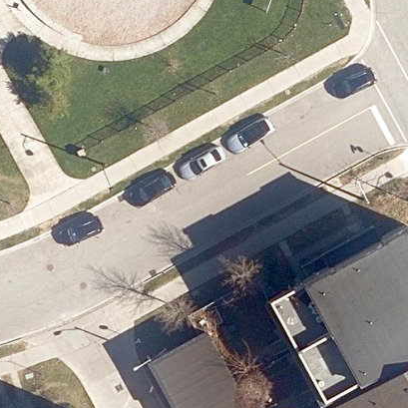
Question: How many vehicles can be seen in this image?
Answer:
5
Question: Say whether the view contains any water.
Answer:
No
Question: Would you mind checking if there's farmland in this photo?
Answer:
No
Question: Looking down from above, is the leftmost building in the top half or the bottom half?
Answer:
bottom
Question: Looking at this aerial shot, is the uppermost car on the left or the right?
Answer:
right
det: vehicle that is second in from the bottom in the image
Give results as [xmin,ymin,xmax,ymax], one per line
[130,172,178,208]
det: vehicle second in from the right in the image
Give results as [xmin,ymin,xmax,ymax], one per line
[229,117,277,153]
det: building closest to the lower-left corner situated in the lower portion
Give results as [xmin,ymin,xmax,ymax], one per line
[147,330,247,408]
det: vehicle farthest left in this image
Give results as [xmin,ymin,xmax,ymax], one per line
[57,213,105,248]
